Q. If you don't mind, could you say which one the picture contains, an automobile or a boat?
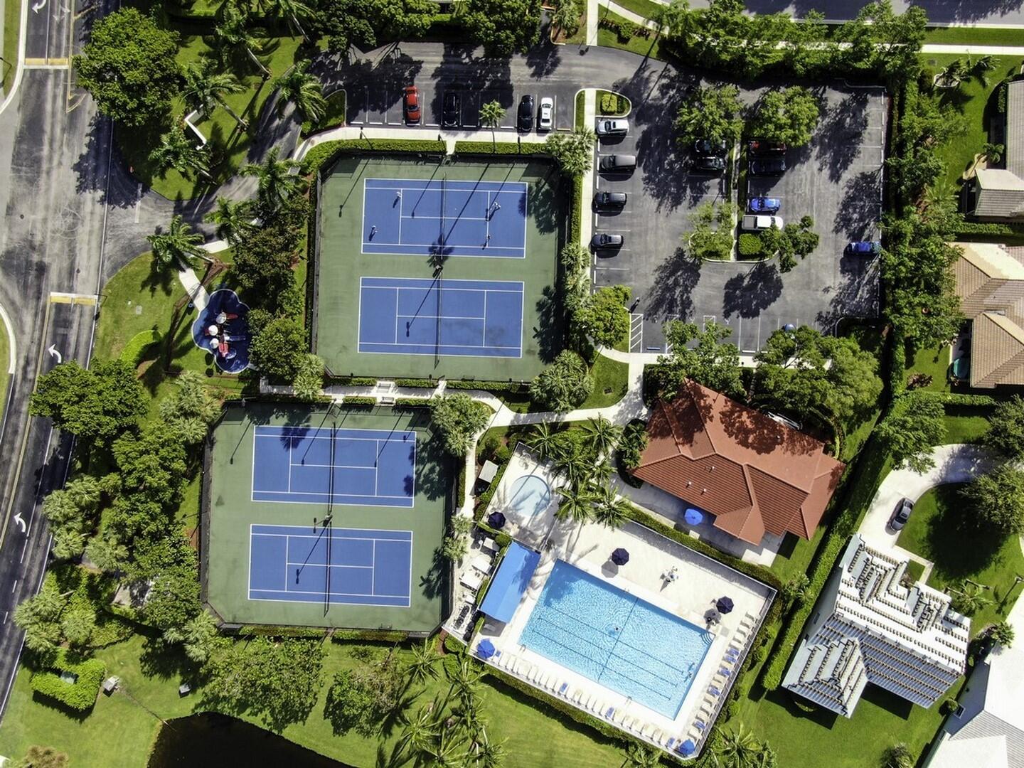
automobile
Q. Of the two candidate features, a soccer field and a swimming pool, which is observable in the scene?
swimming pool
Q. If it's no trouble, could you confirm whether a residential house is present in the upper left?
No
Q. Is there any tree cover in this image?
Yes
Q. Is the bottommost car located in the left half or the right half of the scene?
right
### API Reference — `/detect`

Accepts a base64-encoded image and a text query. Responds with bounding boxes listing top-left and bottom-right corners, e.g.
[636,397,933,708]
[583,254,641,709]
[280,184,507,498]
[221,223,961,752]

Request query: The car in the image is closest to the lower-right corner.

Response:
[889,497,914,530]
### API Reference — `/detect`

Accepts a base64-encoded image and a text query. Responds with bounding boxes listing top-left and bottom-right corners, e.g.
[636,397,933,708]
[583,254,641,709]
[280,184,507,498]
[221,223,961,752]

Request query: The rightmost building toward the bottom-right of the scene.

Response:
[917,657,1024,768]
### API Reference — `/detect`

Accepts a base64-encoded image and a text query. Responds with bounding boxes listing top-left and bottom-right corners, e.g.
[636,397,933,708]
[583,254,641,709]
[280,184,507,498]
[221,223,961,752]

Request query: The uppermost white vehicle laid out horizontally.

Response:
[596,118,630,135]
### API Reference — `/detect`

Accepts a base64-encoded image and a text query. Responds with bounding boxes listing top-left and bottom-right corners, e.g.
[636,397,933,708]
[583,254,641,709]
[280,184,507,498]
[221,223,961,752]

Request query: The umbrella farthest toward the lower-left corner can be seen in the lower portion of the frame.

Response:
[476,638,495,657]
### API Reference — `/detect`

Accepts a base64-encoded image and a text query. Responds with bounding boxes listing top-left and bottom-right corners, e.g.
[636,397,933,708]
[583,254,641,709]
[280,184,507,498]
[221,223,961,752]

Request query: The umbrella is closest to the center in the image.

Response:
[487,510,506,529]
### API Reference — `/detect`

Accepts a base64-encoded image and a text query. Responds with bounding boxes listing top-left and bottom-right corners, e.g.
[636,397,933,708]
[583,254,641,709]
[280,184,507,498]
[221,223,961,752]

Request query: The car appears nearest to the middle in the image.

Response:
[591,234,624,249]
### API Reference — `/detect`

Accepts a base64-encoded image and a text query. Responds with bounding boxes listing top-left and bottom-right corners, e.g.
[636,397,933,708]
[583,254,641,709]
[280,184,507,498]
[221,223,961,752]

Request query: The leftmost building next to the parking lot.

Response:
[632,378,846,546]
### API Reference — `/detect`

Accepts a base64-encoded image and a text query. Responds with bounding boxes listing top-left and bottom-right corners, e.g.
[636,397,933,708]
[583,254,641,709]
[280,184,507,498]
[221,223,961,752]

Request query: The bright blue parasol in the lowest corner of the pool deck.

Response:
[678,737,695,755]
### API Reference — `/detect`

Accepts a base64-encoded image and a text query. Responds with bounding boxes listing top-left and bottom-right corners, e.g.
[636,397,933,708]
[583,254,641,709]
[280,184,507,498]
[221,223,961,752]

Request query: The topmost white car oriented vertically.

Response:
[538,97,553,131]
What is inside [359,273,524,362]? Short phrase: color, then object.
blue tennis court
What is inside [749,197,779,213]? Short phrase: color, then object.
blue car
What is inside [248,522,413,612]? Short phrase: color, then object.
blue tennis court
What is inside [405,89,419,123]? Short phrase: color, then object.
red car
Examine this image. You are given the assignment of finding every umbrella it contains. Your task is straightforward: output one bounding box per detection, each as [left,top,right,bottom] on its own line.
[683,506,703,526]
[487,510,506,529]
[678,737,695,755]
[714,595,733,613]
[611,546,629,565]
[476,638,495,657]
